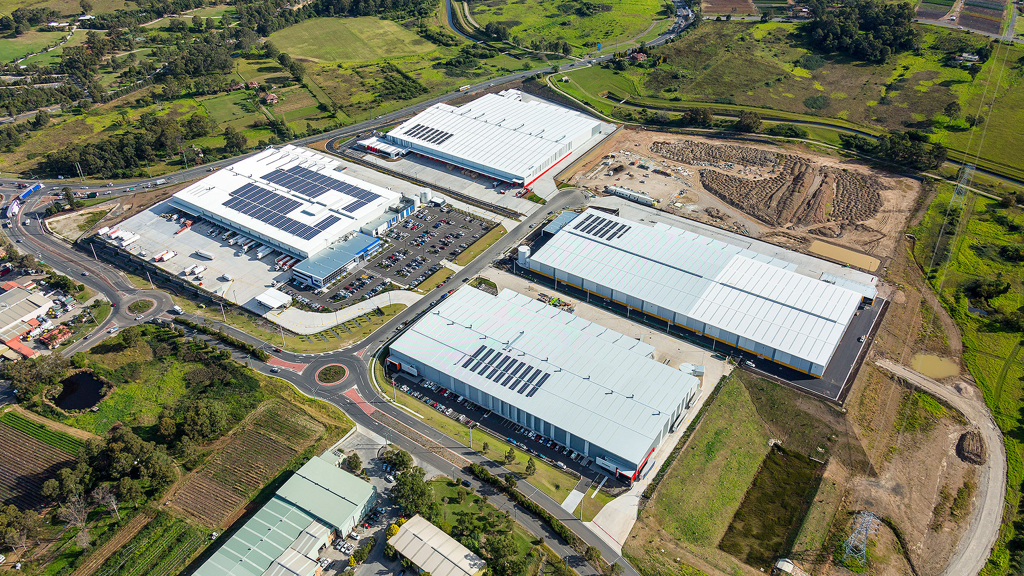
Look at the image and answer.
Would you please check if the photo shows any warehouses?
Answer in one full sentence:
Yes, the picture does show a warehouse.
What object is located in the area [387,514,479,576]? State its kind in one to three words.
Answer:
building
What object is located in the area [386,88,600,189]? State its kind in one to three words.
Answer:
building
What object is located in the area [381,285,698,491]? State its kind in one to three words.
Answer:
warehouse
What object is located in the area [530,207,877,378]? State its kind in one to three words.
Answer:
warehouse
